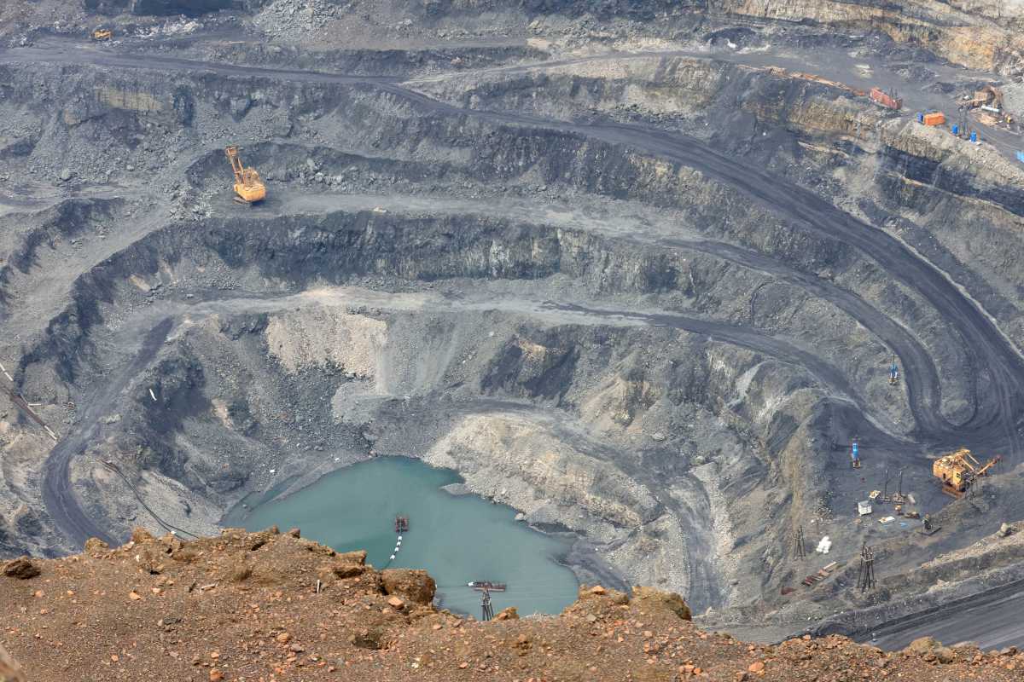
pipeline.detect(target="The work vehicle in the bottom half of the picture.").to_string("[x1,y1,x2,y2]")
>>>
[928,453,1010,496]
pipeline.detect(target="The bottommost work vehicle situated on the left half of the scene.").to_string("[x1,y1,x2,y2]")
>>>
[225,134,265,205]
